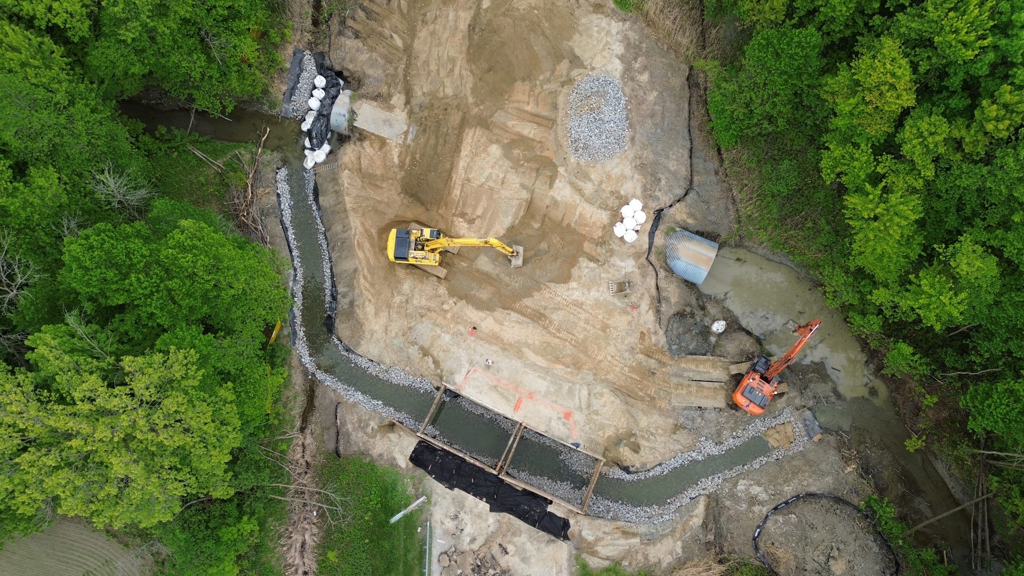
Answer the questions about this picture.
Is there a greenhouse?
No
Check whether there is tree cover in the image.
Yes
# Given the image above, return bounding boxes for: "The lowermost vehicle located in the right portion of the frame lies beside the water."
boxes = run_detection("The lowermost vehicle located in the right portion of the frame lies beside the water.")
[724,317,820,416]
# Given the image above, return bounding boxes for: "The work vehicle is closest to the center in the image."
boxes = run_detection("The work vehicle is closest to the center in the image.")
[389,225,519,282]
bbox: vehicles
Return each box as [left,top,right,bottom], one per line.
[389,225,519,282]
[724,317,820,416]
